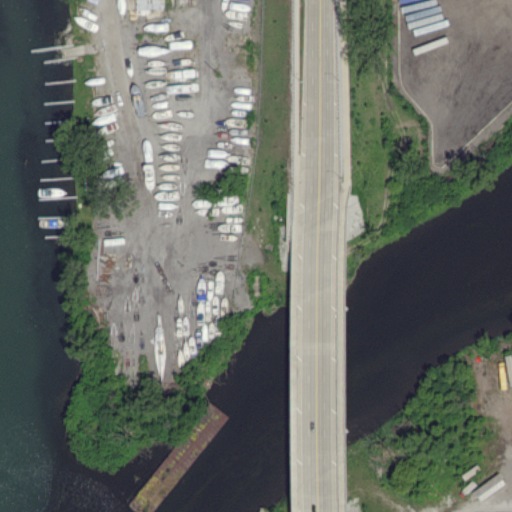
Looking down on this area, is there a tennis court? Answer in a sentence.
No, there's no tennis court here.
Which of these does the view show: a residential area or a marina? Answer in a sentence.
This looks like a marina.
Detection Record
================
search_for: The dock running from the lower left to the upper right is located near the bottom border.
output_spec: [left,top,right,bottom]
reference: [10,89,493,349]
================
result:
[124,403,228,512]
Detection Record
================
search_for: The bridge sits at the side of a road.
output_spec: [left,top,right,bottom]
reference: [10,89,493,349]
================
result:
[290,186,350,512]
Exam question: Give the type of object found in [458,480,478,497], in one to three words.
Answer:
vehicle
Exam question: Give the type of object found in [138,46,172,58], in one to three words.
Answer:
boat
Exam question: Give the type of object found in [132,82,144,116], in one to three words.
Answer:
boat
